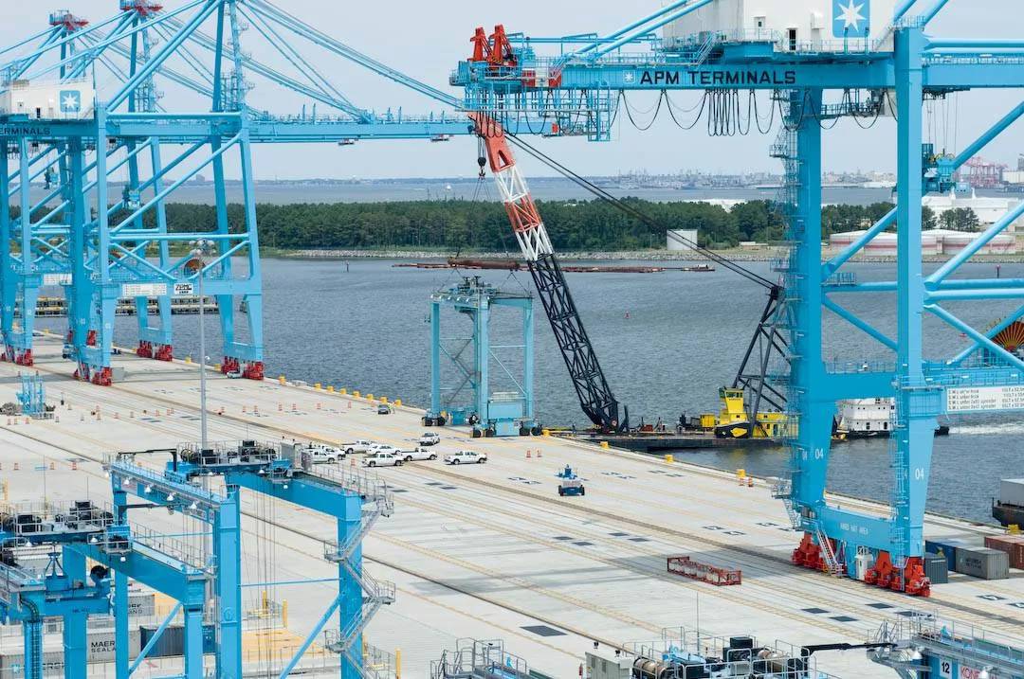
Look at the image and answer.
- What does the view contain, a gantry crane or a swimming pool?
gantry crane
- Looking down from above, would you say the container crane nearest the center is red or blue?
blue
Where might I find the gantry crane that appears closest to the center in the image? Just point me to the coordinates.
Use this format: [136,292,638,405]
[409,273,542,437]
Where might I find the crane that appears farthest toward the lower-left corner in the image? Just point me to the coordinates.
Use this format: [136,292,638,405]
[0,451,217,679]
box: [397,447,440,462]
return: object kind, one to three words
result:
vehicle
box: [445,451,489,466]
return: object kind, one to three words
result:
vehicle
